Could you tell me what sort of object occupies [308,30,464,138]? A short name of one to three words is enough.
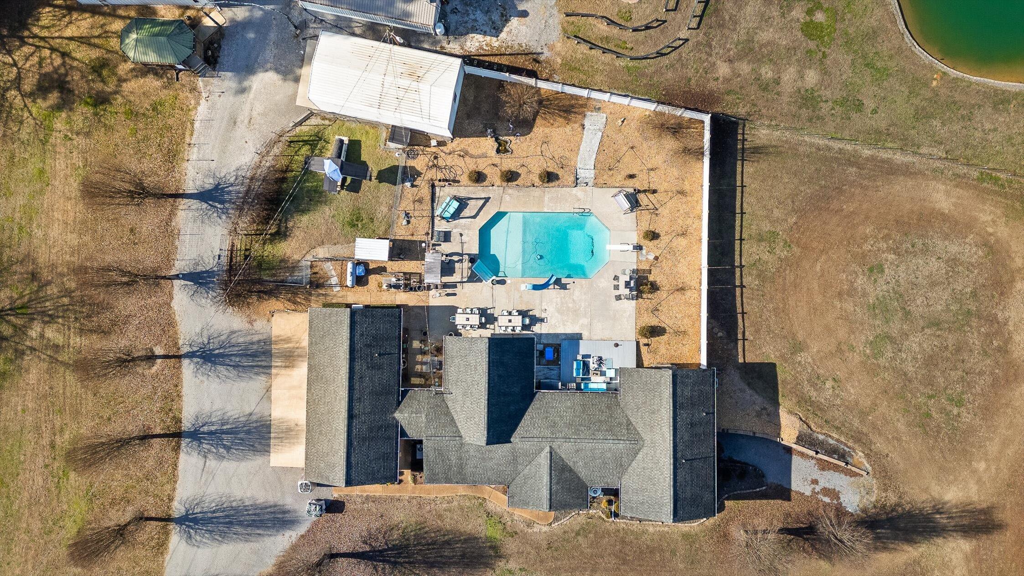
barn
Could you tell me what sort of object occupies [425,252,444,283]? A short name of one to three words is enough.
building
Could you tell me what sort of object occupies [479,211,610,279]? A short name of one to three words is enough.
swimming pool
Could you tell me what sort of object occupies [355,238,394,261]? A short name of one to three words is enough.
shed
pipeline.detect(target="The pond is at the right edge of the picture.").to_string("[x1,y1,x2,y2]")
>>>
[888,0,1024,92]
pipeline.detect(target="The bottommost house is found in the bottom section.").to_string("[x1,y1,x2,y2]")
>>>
[303,307,718,523]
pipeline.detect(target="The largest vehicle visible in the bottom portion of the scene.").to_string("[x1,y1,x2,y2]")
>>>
[307,497,327,515]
